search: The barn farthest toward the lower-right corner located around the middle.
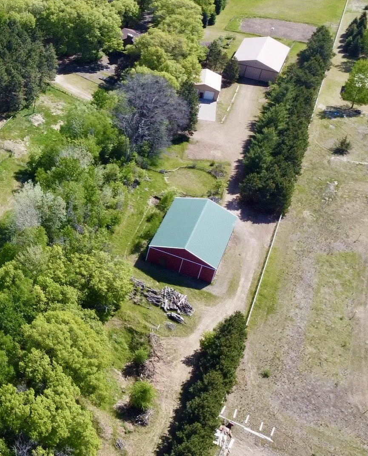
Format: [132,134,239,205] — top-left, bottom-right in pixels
[146,197,239,284]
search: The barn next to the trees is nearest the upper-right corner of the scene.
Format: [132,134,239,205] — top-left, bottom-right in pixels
[240,37,291,84]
